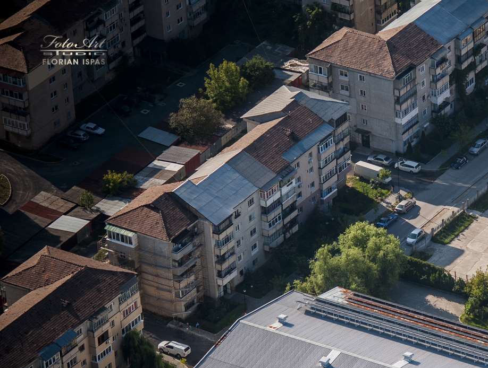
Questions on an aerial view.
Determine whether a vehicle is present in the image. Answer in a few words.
Yes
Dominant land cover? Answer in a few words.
buildings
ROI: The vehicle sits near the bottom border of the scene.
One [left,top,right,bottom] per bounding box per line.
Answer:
[158,340,191,357]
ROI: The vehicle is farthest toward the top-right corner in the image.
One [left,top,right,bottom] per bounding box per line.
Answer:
[468,137,488,153]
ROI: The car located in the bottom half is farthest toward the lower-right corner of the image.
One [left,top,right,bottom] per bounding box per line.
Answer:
[405,225,427,244]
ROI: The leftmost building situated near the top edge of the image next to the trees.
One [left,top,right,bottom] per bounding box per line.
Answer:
[0,0,242,143]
